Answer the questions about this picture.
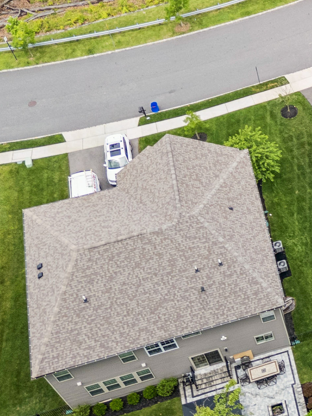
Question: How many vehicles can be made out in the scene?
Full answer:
The count of vehicles comes to 2.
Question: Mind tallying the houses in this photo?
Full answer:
The photo contains exactly 1 house.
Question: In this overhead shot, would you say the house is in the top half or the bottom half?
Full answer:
You can find the house in the bottom half.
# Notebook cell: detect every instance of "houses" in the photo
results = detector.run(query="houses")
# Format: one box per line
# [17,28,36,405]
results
[23,134,291,409]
